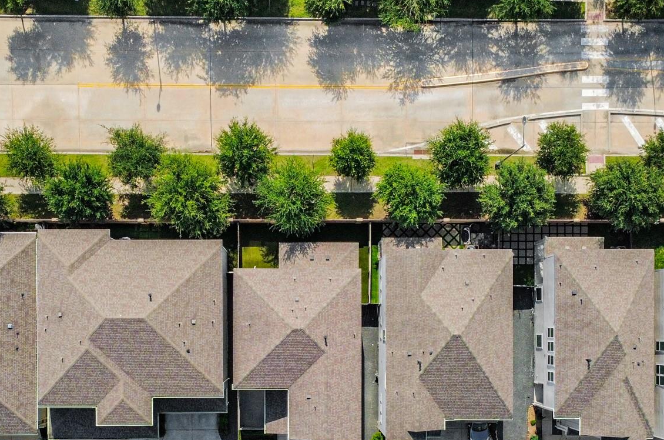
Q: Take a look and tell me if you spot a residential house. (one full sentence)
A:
Yes, there is a residential house in the image.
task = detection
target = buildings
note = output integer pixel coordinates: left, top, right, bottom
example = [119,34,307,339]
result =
[381,236,514,440]
[36,228,228,440]
[233,242,362,440]
[531,236,655,440]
